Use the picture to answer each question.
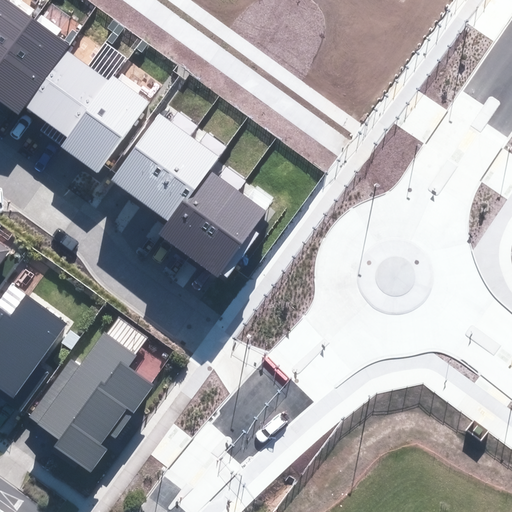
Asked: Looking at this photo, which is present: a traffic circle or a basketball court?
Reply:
traffic circle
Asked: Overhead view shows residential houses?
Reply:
Yes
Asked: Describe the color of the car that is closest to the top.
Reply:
blue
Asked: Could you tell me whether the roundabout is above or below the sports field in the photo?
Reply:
above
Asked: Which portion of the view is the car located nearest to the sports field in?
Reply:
bottom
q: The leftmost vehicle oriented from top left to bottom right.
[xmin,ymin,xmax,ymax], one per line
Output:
[50,228,82,258]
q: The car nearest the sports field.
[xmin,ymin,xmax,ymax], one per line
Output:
[254,410,292,446]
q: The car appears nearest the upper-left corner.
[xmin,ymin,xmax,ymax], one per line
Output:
[6,112,32,142]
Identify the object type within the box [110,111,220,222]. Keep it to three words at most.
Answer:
house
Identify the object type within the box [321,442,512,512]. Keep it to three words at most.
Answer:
sports field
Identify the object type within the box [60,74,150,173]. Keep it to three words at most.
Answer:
house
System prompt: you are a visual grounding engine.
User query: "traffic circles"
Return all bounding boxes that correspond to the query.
[358,239,433,315]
